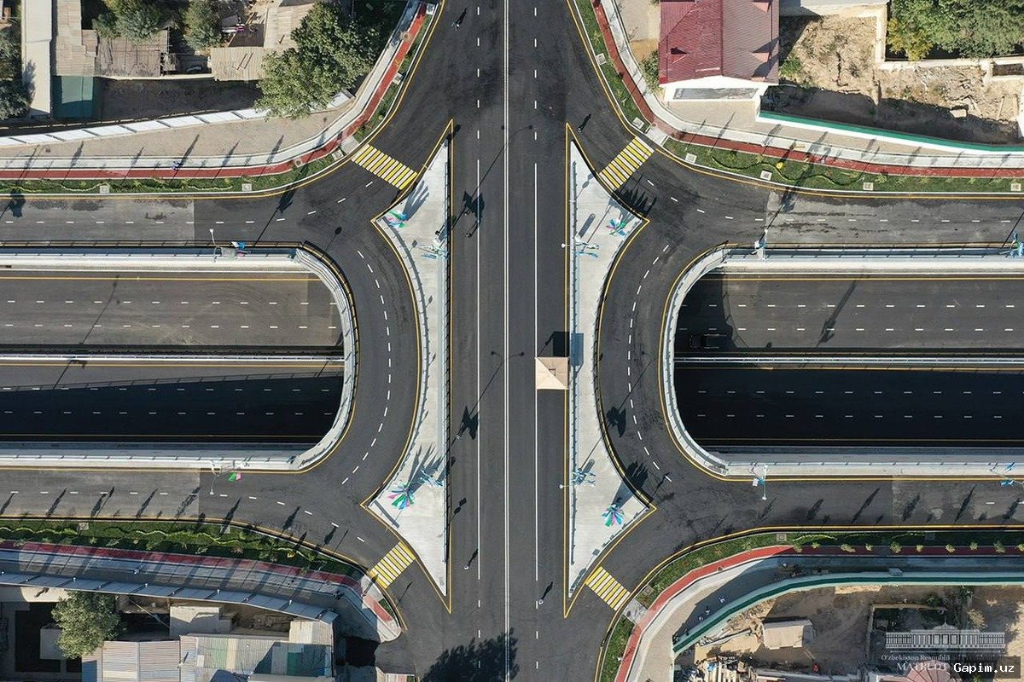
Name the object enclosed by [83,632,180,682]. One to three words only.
building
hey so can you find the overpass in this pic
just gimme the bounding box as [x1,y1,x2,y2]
[300,246,726,475]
